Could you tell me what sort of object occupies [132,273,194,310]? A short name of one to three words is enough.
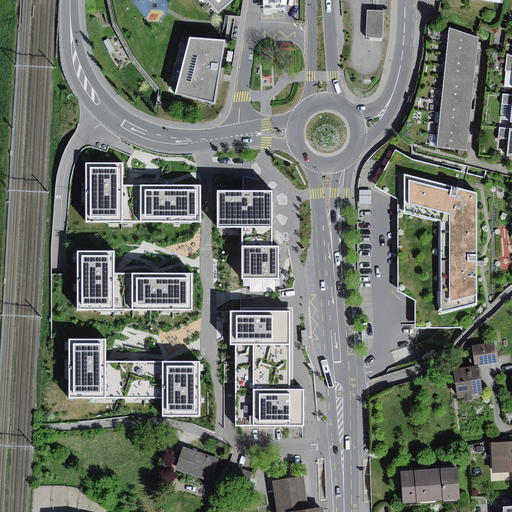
building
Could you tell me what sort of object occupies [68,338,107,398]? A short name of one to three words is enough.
building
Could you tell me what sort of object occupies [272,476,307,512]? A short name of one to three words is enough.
house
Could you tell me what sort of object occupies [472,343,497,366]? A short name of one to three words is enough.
house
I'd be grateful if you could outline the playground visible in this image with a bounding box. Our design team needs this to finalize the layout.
[135,0,169,22]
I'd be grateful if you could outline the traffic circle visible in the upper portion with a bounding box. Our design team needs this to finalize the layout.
[288,93,367,172]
